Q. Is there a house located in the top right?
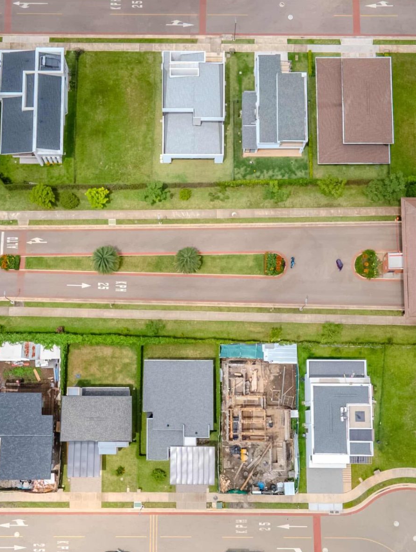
Yes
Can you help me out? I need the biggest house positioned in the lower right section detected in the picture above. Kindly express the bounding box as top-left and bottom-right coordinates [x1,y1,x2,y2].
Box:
[301,360,373,490]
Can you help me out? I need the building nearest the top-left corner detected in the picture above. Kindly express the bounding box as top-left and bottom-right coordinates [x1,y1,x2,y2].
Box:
[0,48,68,167]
